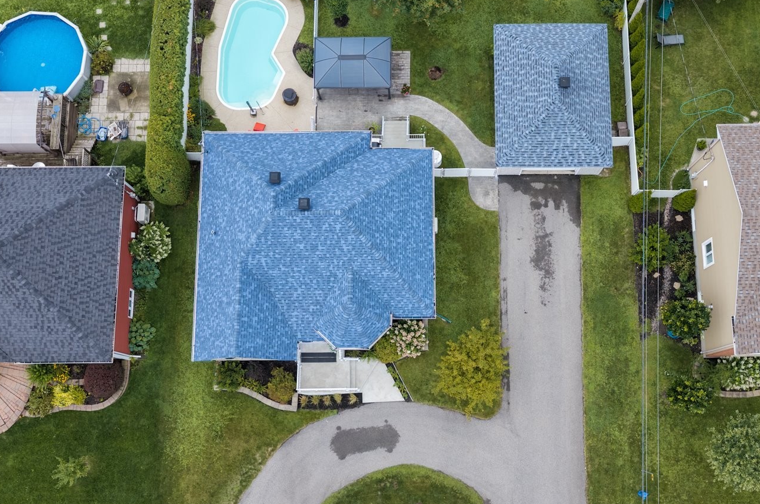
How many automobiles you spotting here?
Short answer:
zero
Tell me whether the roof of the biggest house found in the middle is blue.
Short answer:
Yes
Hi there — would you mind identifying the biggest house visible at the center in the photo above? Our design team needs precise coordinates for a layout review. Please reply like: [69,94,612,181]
[191,130,438,362]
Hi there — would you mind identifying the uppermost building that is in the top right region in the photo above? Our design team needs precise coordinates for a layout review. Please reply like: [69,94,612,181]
[493,22,615,177]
